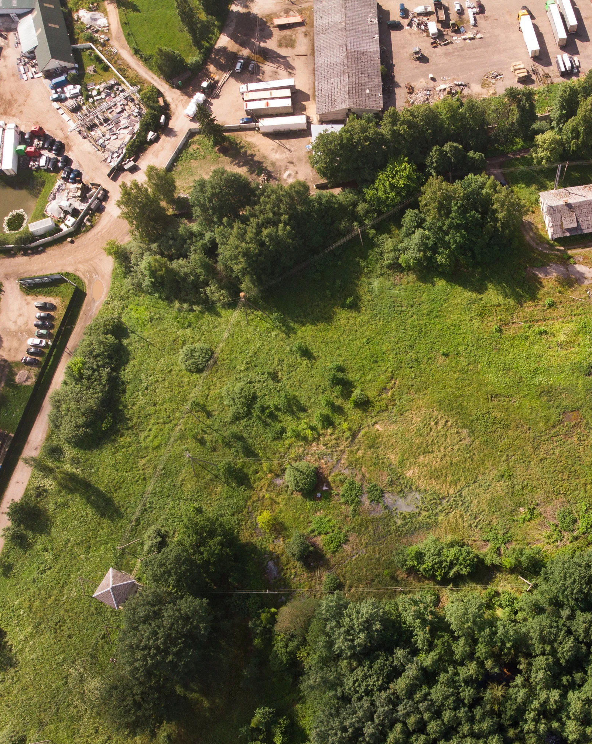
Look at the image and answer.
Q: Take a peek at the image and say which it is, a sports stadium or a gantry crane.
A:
gantry crane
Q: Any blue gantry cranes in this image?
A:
No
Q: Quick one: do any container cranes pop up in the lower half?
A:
No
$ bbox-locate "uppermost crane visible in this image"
[69,84,145,144]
